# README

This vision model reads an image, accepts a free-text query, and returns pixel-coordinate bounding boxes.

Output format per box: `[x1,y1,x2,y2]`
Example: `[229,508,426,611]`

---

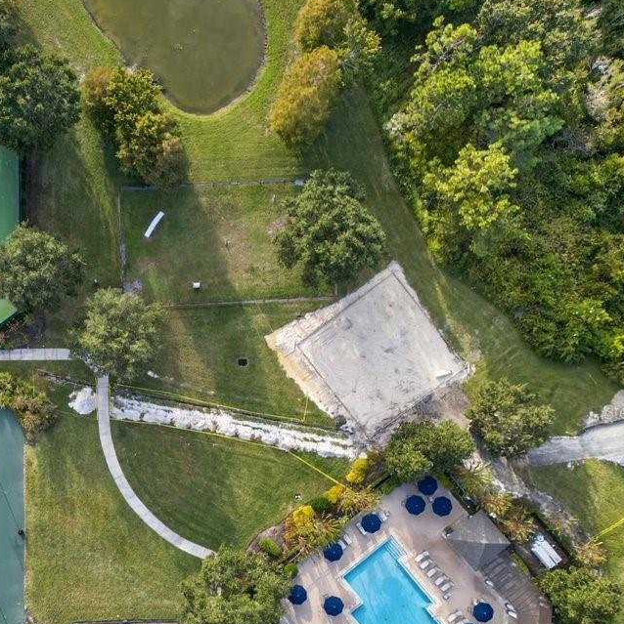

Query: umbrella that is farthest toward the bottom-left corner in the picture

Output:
[287,585,307,605]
